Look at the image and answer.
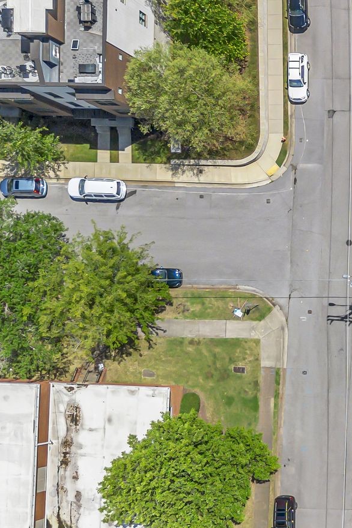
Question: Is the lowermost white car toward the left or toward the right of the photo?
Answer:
left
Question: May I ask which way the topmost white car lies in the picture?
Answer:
vertically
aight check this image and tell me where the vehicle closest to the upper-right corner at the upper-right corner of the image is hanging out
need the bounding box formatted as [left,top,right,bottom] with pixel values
[286,0,311,36]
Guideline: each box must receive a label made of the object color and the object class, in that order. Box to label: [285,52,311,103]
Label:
white car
